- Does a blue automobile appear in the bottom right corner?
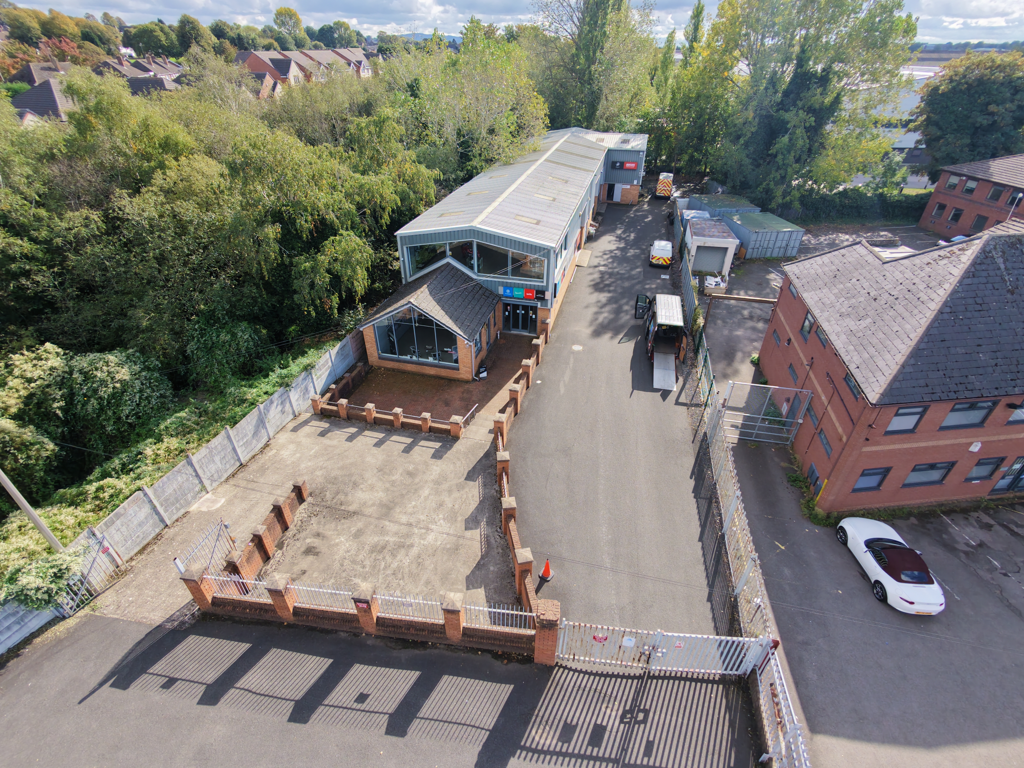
No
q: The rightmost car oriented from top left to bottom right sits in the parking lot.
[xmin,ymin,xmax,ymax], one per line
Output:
[842,519,949,618]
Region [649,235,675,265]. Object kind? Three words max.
vehicle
